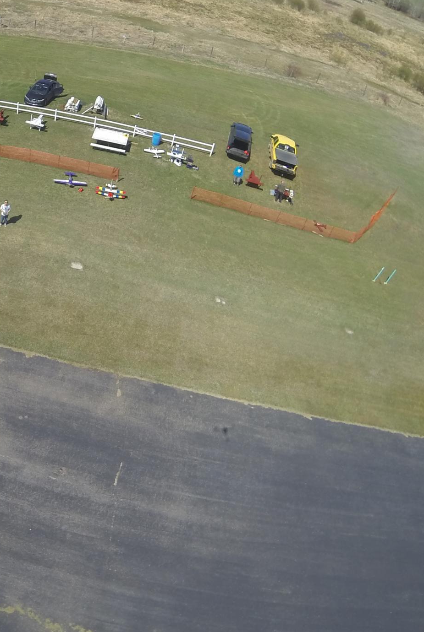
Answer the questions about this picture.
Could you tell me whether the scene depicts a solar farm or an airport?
airport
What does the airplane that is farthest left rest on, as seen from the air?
grass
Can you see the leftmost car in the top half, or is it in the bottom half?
top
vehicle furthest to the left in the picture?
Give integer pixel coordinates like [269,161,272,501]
[25,72,63,107]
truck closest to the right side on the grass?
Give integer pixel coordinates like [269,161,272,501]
[266,136,297,176]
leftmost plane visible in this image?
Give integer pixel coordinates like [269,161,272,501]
[55,167,88,188]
